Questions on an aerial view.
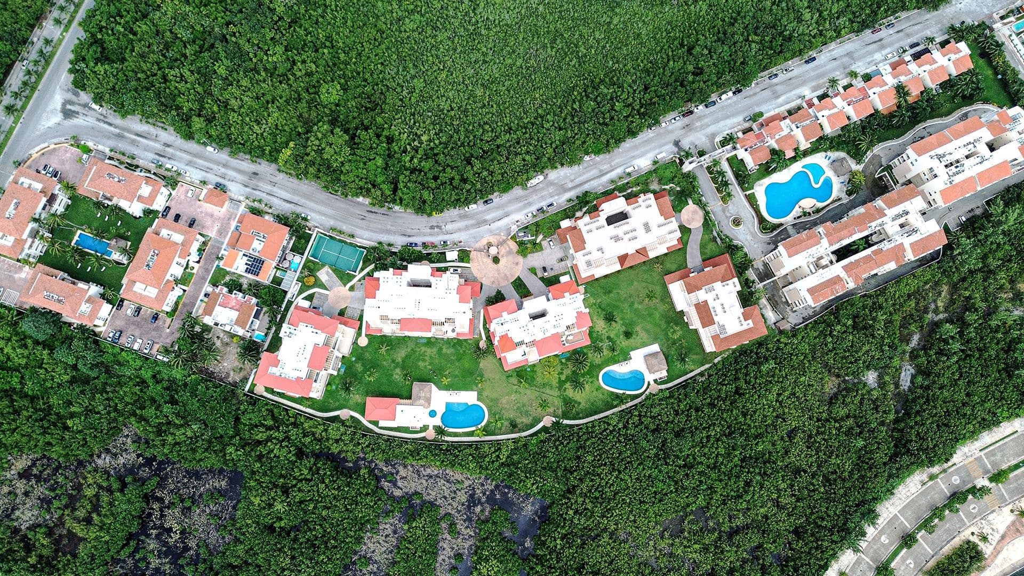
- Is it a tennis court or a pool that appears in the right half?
pool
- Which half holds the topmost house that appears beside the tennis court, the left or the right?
left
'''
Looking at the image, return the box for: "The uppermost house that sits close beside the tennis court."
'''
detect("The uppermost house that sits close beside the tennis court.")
[223,214,291,263]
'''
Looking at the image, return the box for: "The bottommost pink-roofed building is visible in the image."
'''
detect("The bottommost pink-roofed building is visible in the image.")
[364,396,424,421]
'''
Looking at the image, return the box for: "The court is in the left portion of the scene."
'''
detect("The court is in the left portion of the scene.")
[308,233,368,275]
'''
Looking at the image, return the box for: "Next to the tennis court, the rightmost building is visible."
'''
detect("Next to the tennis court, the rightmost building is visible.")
[365,265,481,339]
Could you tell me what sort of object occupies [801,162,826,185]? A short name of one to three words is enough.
swimming pool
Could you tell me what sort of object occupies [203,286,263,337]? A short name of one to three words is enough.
house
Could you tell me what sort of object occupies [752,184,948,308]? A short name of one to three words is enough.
building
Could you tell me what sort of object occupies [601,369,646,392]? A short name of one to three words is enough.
swimming pool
